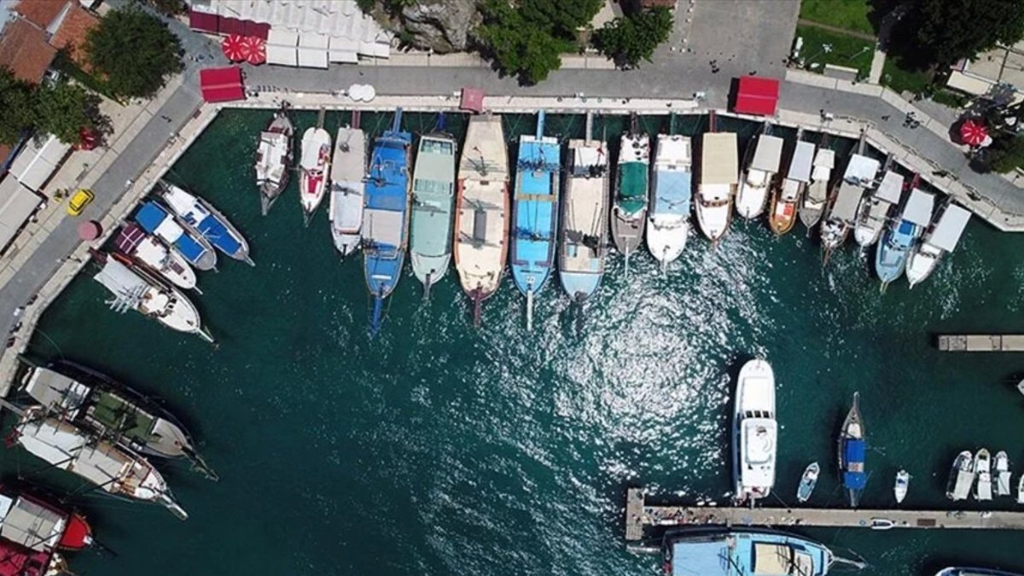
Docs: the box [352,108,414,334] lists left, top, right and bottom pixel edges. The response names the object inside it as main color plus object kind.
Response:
blue boat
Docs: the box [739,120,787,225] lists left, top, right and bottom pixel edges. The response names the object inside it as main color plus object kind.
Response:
white boat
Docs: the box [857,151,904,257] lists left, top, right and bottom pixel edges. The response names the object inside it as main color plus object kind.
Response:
white boat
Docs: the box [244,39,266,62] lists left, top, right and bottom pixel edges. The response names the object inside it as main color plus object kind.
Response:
red umbrella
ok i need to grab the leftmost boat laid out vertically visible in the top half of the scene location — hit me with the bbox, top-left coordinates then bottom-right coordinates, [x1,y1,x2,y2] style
[249,101,301,214]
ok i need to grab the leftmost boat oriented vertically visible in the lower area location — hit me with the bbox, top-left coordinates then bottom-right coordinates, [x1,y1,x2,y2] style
[731,359,789,511]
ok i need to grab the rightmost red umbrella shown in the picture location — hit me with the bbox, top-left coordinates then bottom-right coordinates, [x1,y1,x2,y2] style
[959,120,988,145]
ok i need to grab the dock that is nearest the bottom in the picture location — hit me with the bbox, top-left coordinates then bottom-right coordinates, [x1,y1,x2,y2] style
[626,487,1024,540]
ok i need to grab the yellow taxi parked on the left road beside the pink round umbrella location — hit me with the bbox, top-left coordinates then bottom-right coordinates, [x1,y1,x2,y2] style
[63,186,93,217]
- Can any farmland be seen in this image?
No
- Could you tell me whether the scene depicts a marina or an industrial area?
marina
